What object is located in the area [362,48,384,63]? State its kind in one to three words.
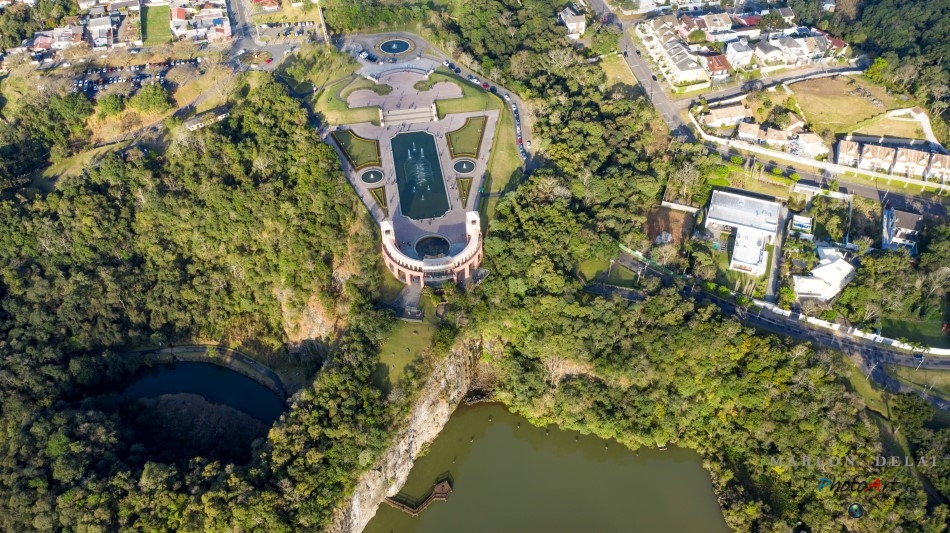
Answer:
vehicle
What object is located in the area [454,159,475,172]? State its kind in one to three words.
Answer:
fountain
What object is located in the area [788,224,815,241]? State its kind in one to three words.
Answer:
shed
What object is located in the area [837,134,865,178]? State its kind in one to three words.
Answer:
house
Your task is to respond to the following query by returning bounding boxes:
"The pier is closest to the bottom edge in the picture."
[385,479,452,520]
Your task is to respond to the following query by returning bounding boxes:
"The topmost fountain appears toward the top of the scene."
[375,35,417,57]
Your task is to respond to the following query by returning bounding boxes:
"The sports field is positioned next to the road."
[142,4,173,45]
